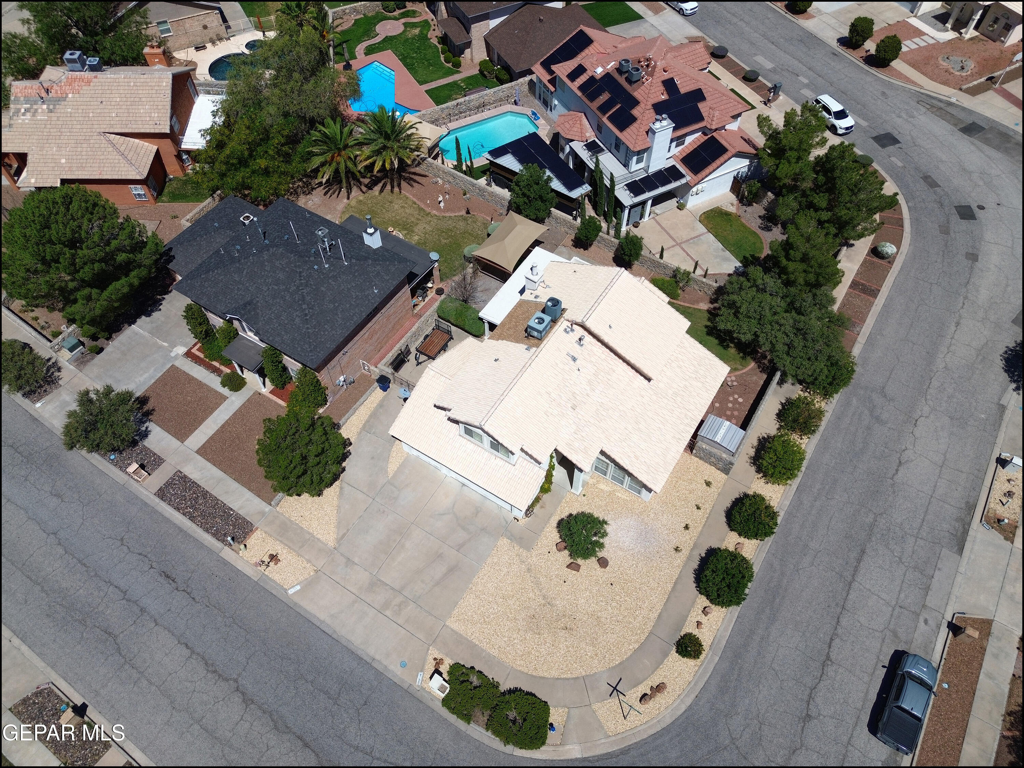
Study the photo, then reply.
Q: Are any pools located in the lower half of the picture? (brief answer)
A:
No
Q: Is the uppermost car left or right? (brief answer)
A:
right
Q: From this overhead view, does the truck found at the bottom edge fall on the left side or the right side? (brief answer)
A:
right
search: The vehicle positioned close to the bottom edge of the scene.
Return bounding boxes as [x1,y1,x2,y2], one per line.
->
[870,648,936,764]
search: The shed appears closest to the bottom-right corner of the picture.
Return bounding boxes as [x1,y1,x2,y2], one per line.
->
[696,413,746,459]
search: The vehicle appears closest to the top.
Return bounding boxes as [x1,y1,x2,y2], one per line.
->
[666,0,703,20]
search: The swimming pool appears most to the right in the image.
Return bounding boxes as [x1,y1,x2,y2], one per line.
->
[436,109,542,163]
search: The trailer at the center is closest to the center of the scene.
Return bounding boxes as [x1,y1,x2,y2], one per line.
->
[415,319,453,367]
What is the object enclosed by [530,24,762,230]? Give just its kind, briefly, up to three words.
house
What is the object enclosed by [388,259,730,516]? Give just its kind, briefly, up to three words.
house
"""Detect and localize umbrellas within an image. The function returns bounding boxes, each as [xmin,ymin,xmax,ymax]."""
[512,86,522,108]
[342,52,353,70]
